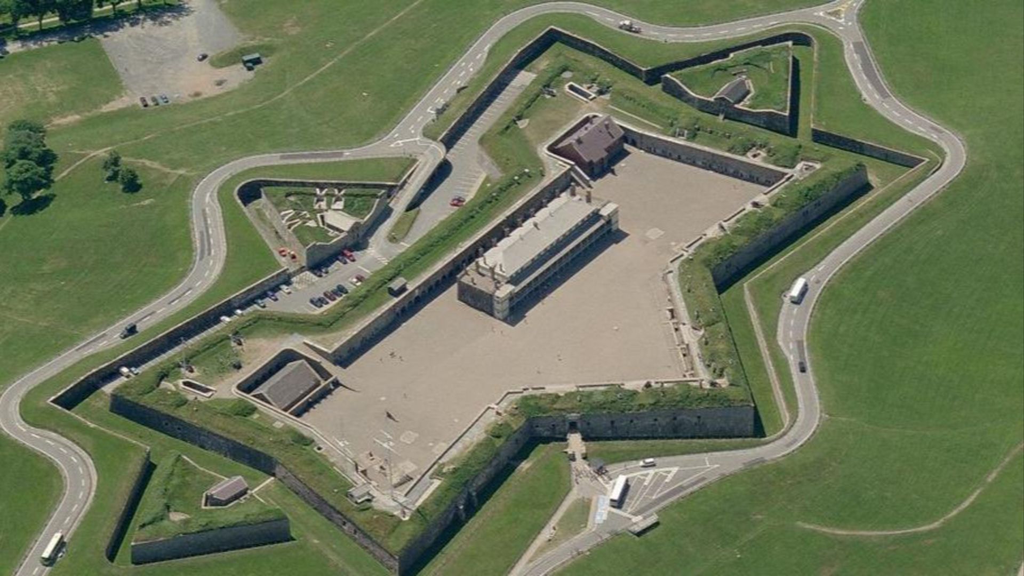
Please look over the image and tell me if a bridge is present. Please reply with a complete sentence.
Yes, I can see a bridge in this picture.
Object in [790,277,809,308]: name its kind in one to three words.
vehicle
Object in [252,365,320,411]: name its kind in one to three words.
building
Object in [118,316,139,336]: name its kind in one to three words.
vehicle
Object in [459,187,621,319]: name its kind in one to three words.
building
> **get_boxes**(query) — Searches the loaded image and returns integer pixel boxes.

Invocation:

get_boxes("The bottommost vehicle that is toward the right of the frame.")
[611,474,630,508]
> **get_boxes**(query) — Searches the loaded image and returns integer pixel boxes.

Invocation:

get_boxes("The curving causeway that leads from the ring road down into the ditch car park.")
[374,154,447,235]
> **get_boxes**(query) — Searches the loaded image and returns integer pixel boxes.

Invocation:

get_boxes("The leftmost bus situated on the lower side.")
[43,530,67,566]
